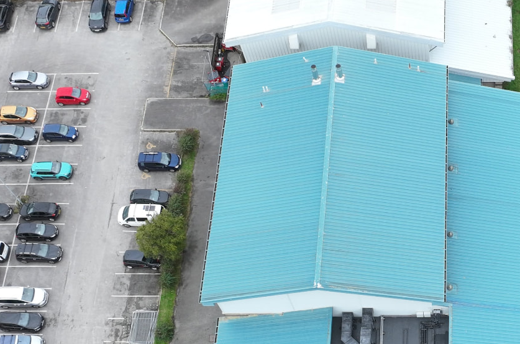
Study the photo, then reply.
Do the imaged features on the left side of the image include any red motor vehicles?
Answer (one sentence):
Yes, you'll find a red motor vehicle on the left side of the image.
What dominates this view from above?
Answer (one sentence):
The largest share of the image is taken up by buildings.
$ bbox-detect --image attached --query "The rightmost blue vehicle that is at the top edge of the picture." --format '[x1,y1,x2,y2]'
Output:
[114,0,136,24]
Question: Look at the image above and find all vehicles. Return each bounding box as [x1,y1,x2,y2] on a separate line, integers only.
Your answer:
[0,125,42,146]
[215,44,233,59]
[0,0,16,34]
[114,0,136,24]
[14,222,62,244]
[0,143,31,163]
[17,201,66,224]
[0,203,17,223]
[138,152,183,174]
[0,105,42,127]
[0,310,48,334]
[87,0,113,34]
[55,87,94,107]
[13,243,66,266]
[0,241,13,262]
[41,124,83,145]
[36,0,62,31]
[0,285,50,310]
[28,160,77,183]
[120,251,163,271]
[118,203,170,227]
[128,188,173,208]
[8,71,52,91]
[0,334,48,344]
